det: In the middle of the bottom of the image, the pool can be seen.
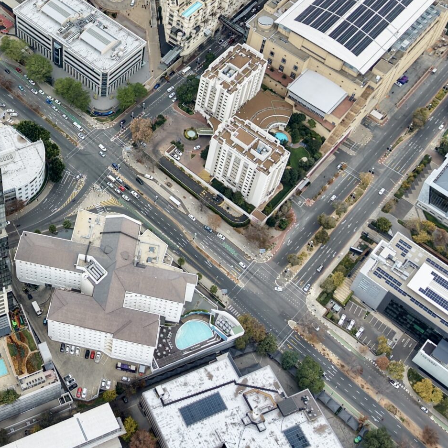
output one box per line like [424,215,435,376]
[176,320,214,349]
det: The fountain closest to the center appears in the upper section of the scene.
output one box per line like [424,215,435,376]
[179,124,202,143]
